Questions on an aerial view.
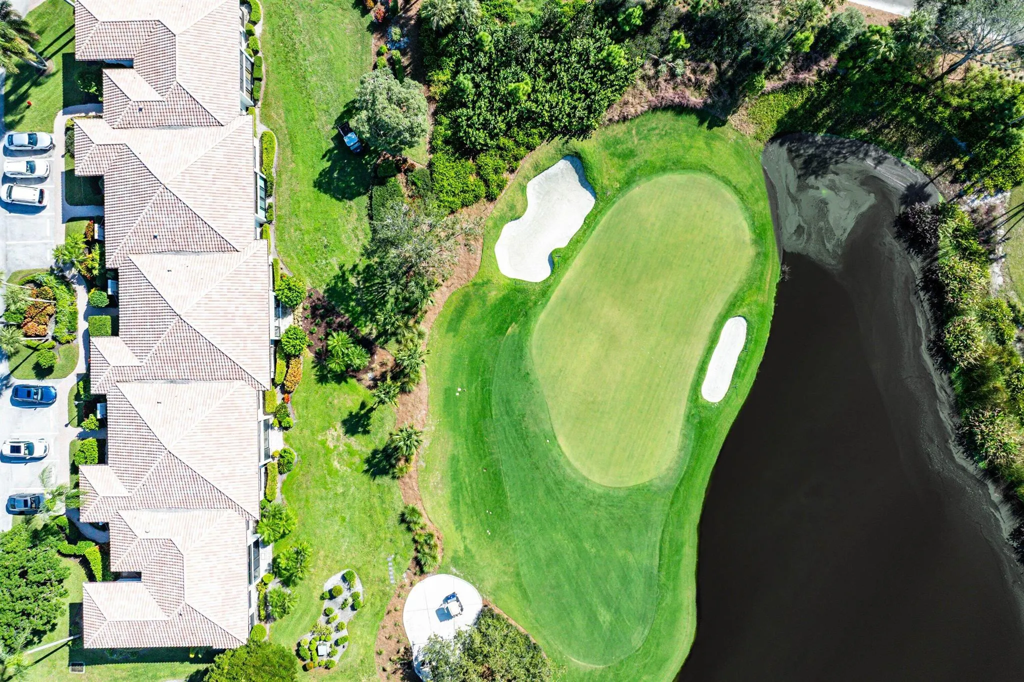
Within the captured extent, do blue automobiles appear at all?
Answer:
Yes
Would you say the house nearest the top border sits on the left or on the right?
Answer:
left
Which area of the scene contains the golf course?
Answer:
center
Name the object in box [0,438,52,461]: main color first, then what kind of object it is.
white car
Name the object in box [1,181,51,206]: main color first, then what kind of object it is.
white car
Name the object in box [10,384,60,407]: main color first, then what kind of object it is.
blue car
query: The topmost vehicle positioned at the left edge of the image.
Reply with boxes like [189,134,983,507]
[4,128,56,152]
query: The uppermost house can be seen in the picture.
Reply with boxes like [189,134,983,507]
[73,0,255,131]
